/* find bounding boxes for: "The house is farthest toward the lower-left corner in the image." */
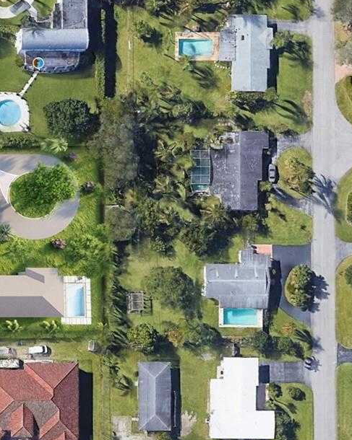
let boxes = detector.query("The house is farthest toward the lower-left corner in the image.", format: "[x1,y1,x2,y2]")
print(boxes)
[0,363,80,440]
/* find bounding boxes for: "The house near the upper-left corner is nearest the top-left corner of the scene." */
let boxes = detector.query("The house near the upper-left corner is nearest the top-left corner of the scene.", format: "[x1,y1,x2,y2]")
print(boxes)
[16,0,90,53]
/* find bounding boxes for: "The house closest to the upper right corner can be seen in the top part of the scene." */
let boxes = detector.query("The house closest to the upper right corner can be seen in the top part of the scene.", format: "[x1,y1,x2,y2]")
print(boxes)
[219,15,273,91]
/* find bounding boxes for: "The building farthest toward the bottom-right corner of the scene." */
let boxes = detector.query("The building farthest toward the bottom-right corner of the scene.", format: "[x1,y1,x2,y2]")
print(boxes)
[209,358,275,439]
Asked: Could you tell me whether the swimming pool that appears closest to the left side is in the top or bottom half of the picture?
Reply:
top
